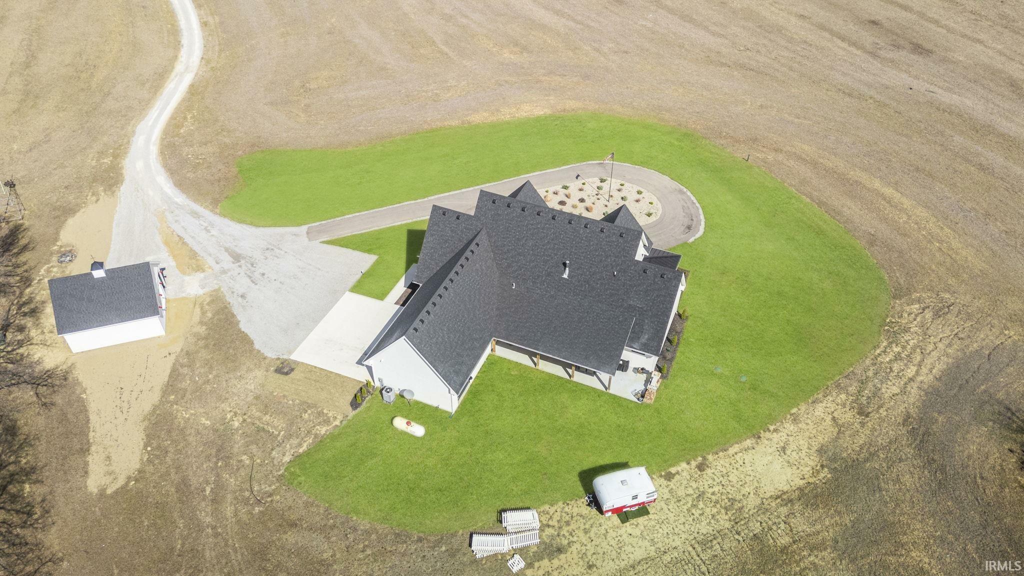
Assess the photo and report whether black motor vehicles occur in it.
No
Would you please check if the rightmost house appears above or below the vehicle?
above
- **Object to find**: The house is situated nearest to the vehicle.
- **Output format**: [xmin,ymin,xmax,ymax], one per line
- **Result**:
[364,180,690,416]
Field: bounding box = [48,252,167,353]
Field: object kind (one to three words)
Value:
barn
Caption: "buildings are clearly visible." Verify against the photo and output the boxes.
[48,252,167,353]
[364,180,690,416]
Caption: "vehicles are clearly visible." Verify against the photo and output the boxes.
[589,467,659,517]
